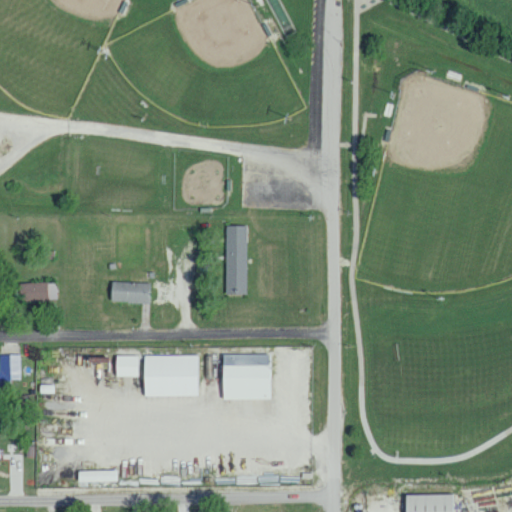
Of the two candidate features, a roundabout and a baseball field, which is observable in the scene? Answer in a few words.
baseball field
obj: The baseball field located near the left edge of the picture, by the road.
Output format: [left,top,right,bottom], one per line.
[0,0,122,117]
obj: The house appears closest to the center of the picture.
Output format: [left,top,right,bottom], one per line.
[224,226,250,296]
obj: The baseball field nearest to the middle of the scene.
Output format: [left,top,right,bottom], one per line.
[175,152,228,210]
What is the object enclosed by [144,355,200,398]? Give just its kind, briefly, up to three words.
building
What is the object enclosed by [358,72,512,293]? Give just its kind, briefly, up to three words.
baseball field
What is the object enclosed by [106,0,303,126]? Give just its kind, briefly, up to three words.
baseball field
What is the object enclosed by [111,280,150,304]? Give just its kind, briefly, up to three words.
house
